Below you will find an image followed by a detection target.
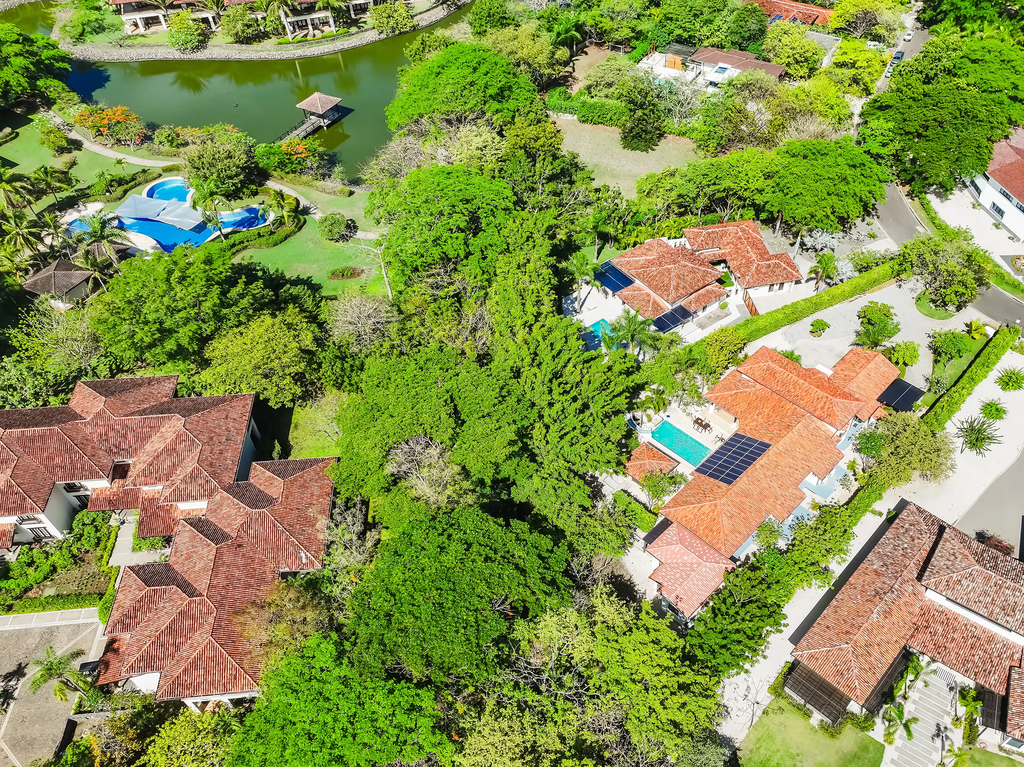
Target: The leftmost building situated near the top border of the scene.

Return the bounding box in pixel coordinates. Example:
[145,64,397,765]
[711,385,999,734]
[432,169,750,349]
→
[115,0,171,34]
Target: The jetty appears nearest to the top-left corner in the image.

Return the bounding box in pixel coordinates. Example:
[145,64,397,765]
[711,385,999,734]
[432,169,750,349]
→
[260,111,322,145]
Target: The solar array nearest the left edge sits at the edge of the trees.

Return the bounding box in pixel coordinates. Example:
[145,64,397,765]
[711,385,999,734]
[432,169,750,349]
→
[695,432,771,485]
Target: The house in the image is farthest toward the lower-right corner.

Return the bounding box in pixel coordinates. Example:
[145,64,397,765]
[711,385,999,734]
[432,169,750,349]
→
[775,500,1024,763]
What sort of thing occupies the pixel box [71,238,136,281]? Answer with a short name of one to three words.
building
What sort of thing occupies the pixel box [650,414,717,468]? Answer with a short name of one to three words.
swimming pool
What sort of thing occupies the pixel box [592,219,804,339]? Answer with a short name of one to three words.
house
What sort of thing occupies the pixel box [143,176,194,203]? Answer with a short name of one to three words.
swimming pool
